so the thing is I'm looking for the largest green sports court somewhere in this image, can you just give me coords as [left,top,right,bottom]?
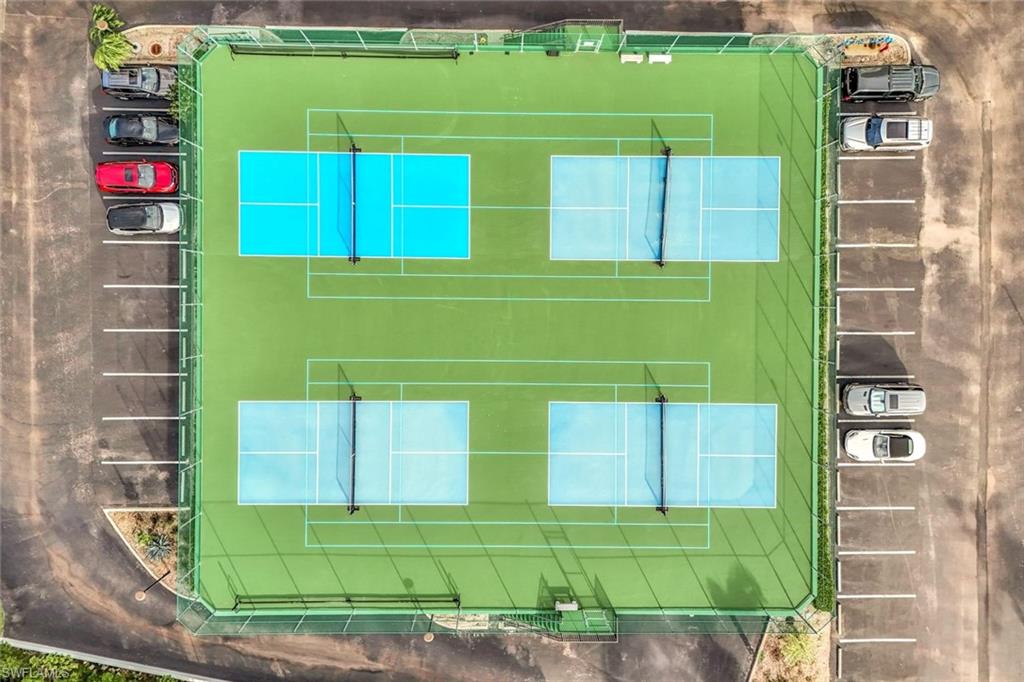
[193,41,824,619]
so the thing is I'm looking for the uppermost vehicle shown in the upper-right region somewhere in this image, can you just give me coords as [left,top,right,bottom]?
[839,63,937,104]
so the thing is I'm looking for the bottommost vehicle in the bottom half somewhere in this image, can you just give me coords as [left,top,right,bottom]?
[843,429,925,466]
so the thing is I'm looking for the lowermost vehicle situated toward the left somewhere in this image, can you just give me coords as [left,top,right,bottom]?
[104,201,186,237]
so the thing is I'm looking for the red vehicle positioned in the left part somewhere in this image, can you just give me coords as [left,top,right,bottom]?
[97,158,183,195]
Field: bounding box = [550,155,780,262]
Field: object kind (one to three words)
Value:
sports court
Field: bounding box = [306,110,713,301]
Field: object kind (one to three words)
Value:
tennis court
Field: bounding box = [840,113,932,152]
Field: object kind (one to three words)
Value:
car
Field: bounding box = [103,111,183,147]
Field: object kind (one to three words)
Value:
car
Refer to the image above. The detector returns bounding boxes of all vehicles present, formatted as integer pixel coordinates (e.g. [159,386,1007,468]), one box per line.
[97,158,183,195]
[104,201,186,237]
[103,111,183,147]
[839,63,937,104]
[843,429,925,466]
[841,384,927,420]
[840,113,932,152]
[100,62,183,101]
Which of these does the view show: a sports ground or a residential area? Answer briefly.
sports ground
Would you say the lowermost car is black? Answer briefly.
No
